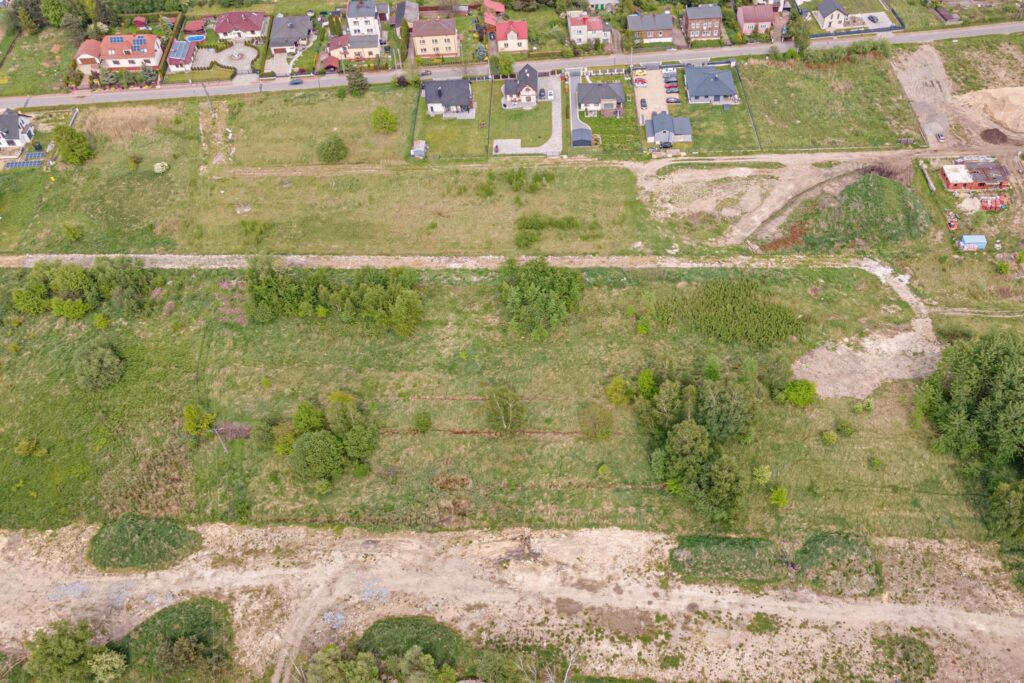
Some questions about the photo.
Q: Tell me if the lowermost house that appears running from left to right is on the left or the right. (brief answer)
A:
right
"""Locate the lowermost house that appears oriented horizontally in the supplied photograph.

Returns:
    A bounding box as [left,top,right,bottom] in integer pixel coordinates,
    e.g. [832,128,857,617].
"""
[939,158,1015,192]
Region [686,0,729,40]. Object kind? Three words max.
house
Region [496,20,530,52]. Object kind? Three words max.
house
